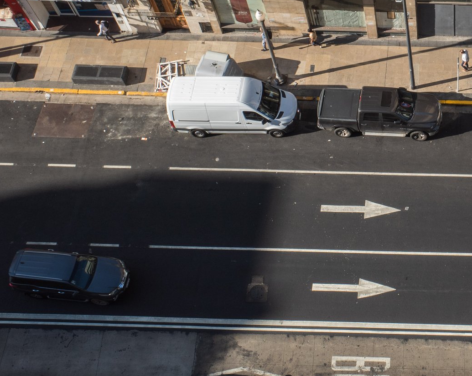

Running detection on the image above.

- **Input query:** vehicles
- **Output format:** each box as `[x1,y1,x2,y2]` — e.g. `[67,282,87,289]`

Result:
[4,251,134,307]
[317,82,444,138]
[163,76,302,137]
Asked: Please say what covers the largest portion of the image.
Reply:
paved ground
